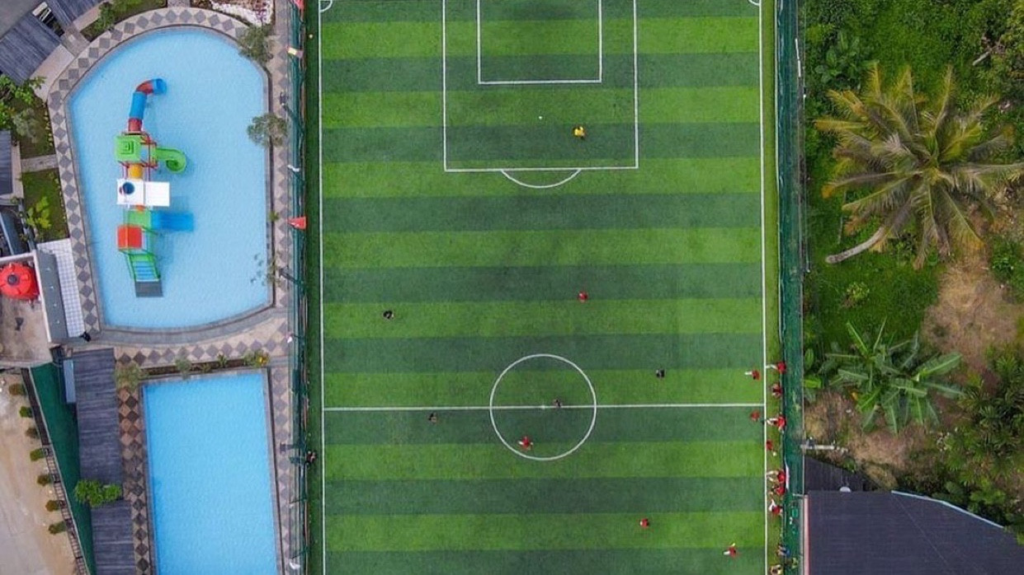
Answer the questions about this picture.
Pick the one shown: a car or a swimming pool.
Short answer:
swimming pool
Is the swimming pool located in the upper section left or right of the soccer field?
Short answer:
to its left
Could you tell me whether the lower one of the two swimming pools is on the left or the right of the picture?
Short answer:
left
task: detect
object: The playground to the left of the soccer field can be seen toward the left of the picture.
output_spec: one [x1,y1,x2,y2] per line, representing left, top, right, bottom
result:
[116,75,194,297]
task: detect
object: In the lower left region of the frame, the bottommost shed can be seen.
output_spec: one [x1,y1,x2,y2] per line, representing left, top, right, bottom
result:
[91,502,137,575]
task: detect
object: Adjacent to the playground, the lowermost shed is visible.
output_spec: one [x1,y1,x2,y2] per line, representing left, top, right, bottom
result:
[73,349,125,504]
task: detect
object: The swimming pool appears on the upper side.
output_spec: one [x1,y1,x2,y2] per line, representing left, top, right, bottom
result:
[64,25,274,334]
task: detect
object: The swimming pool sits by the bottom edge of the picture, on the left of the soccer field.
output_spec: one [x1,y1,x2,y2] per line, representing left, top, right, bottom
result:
[141,369,282,575]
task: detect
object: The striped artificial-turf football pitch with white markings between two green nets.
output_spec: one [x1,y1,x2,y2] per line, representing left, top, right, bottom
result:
[305,0,782,575]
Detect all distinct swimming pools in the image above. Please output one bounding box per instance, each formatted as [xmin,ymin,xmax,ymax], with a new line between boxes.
[64,25,274,334]
[141,369,282,575]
